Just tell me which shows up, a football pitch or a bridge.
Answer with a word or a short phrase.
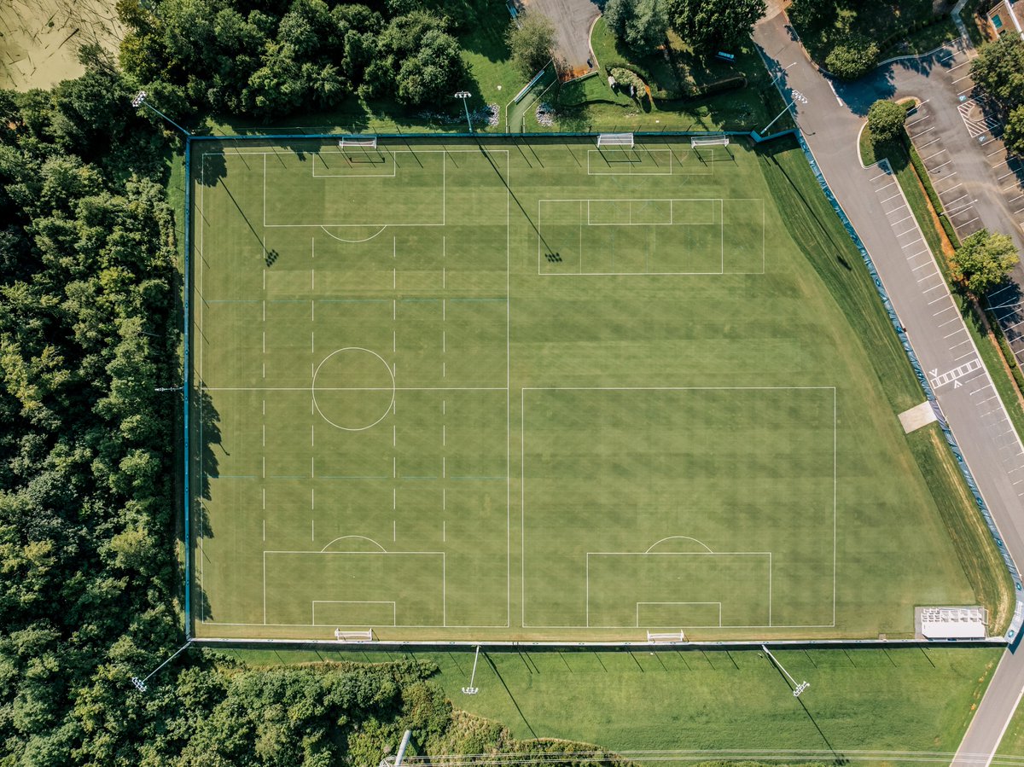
football pitch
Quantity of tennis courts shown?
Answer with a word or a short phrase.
none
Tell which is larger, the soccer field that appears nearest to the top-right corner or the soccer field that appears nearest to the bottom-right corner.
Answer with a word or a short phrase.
the soccer field that appears nearest to the bottom-right corner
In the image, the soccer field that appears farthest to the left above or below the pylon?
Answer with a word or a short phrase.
above it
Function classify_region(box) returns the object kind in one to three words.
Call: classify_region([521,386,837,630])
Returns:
soccer field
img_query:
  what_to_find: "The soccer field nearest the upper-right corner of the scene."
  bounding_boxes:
[537,147,765,276]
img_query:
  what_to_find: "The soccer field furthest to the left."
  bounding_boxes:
[201,149,511,629]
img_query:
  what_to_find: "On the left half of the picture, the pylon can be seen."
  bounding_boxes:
[377,729,409,767]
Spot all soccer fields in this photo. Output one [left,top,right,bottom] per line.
[521,386,837,630]
[537,147,765,276]
[201,149,511,629]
